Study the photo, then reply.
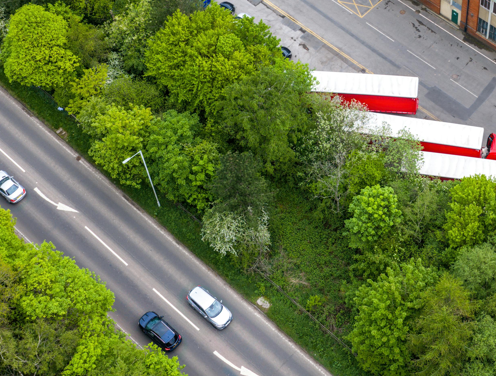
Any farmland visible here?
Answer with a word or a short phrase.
No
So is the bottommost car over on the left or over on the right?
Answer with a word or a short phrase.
left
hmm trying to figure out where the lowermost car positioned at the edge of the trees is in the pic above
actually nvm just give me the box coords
[139,311,181,352]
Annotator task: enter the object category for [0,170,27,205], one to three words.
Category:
car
